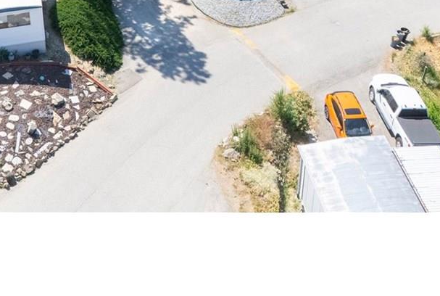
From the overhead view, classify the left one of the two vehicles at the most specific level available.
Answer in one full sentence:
From above, the left one of the two vehicles can be identified as a car.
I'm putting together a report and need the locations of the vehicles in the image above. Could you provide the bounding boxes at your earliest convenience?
[323,82,379,147]
[378,70,440,152]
